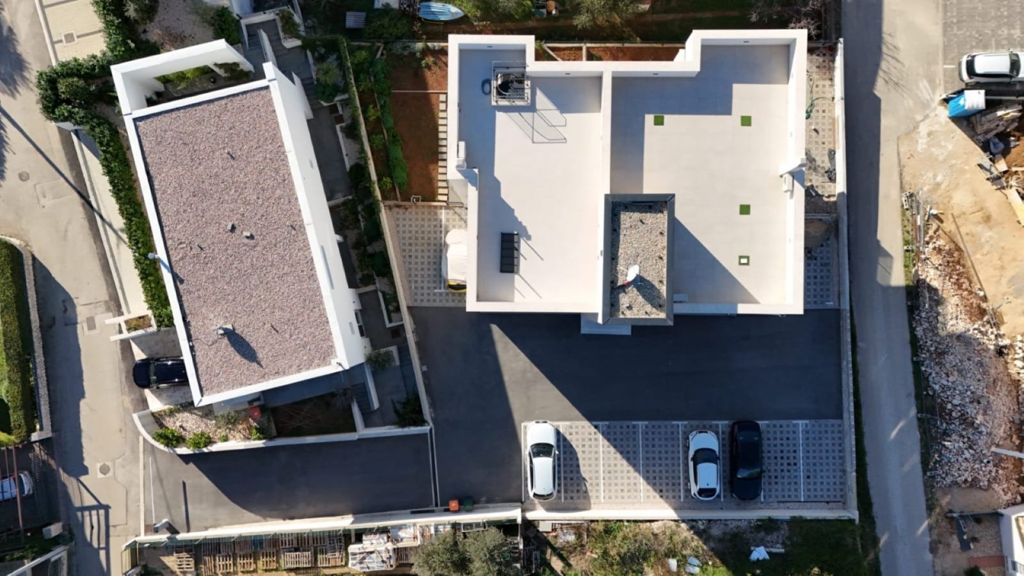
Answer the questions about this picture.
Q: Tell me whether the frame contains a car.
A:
Yes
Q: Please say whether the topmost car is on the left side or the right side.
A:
right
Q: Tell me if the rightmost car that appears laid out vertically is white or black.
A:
black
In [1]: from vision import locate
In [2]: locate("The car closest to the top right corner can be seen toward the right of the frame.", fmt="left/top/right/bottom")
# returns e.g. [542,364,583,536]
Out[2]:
[955,47,1024,86]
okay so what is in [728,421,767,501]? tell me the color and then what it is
black car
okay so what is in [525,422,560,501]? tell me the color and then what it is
white car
